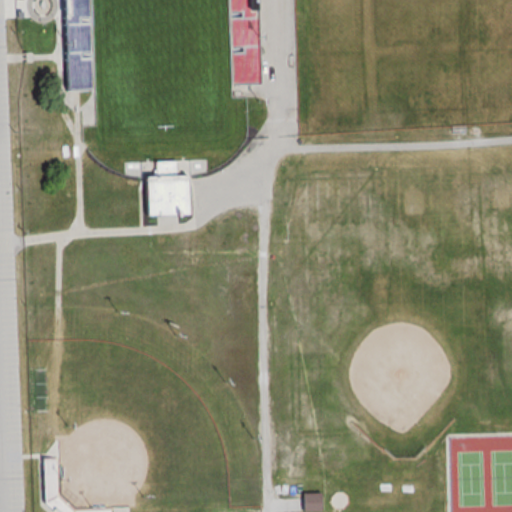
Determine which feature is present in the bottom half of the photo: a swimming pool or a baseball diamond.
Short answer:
baseball diamond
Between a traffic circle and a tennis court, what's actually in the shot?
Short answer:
tennis court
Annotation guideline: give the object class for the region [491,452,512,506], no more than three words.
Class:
tennis court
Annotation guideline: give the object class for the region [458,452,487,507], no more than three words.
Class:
tennis court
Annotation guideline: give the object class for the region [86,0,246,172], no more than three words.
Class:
sports field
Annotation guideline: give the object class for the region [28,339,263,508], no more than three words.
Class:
baseball field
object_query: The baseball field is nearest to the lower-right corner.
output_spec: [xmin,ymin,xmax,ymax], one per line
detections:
[350,322,455,460]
